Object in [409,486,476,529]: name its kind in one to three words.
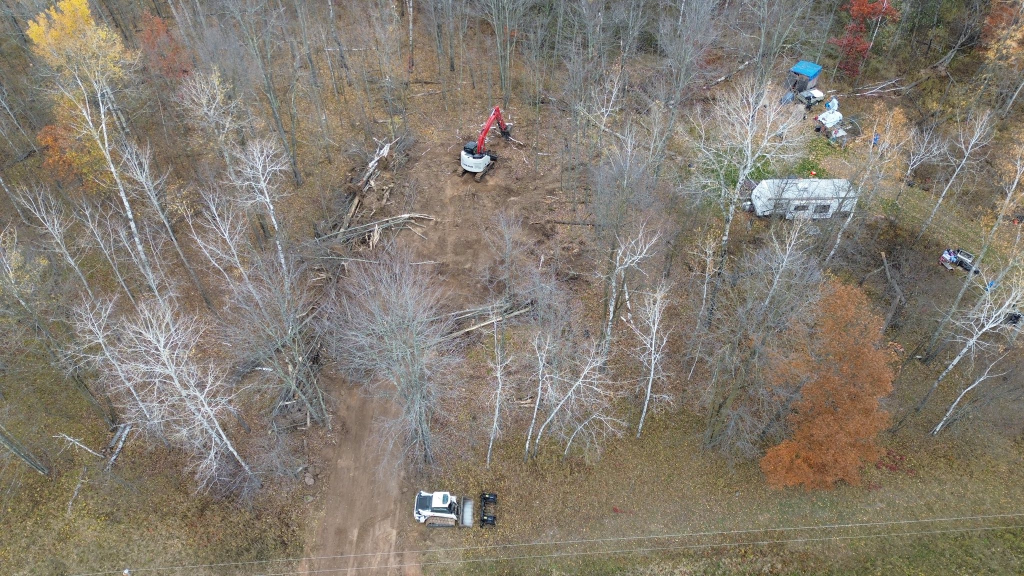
work vehicle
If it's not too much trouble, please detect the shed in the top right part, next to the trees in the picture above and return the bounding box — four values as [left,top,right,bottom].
[792,59,827,93]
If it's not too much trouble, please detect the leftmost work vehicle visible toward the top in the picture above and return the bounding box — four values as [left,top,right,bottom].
[452,103,514,184]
